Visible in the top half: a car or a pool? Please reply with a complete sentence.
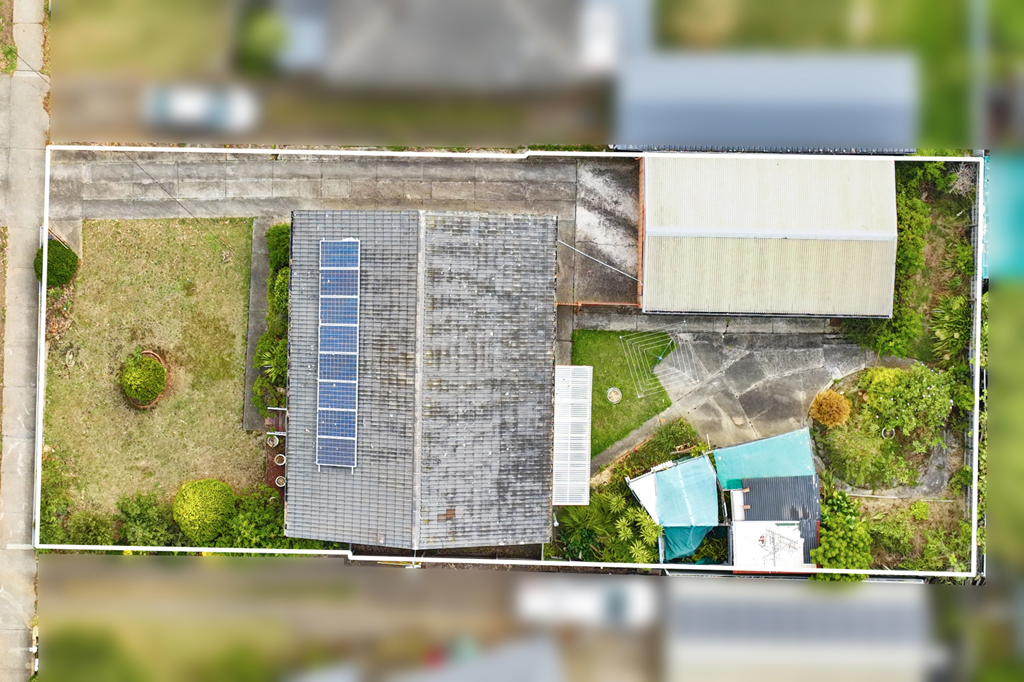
Visible in the top half is a car.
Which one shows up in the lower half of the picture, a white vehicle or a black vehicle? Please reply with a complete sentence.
The feature located in the lower half of the picture is a white vehicle.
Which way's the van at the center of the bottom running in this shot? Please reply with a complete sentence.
The van at the center of the bottom is laid out from left to right.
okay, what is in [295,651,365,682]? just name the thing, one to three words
shed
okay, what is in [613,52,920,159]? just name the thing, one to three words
building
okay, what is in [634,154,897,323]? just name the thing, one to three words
building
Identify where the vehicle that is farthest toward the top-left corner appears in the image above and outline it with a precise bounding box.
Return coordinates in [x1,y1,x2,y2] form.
[143,80,260,134]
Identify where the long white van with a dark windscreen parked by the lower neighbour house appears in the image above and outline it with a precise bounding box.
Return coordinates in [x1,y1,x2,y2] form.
[515,577,655,634]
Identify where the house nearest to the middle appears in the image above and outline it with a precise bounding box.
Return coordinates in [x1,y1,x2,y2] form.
[281,208,560,548]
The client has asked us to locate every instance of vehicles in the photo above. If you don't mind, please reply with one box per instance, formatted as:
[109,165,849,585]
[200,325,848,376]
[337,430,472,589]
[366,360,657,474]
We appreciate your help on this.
[515,577,655,634]
[143,80,260,134]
